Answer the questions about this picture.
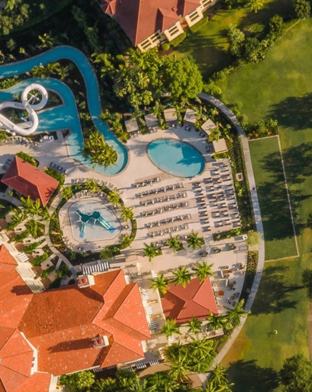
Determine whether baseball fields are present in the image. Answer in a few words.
No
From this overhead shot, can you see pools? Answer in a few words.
Yes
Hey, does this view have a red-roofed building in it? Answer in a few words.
Yes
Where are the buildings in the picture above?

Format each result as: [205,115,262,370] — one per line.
[0,209,159,392]
[100,0,224,54]
[1,155,62,206]
[166,275,219,323]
